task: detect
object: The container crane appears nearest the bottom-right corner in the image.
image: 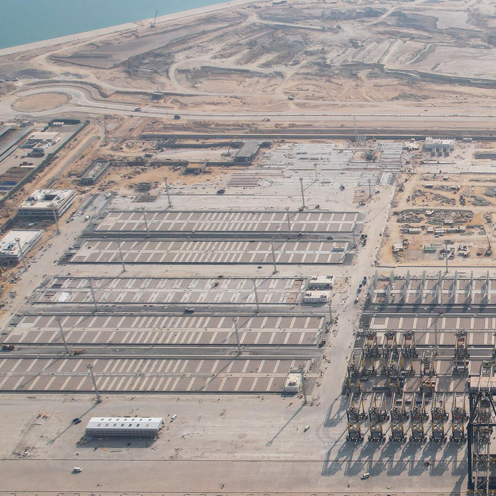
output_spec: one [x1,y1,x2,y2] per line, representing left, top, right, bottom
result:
[466,359,496,496]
